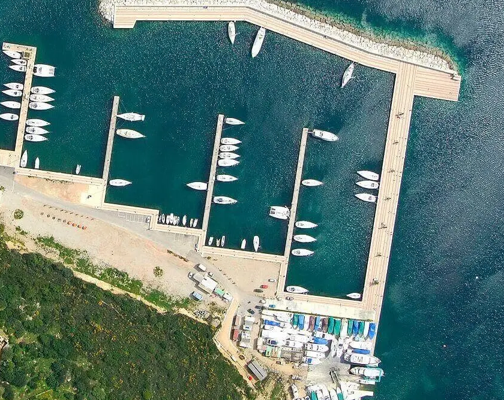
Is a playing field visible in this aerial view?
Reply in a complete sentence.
No, there is no playing field in the image.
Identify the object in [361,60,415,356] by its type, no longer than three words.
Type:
pier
